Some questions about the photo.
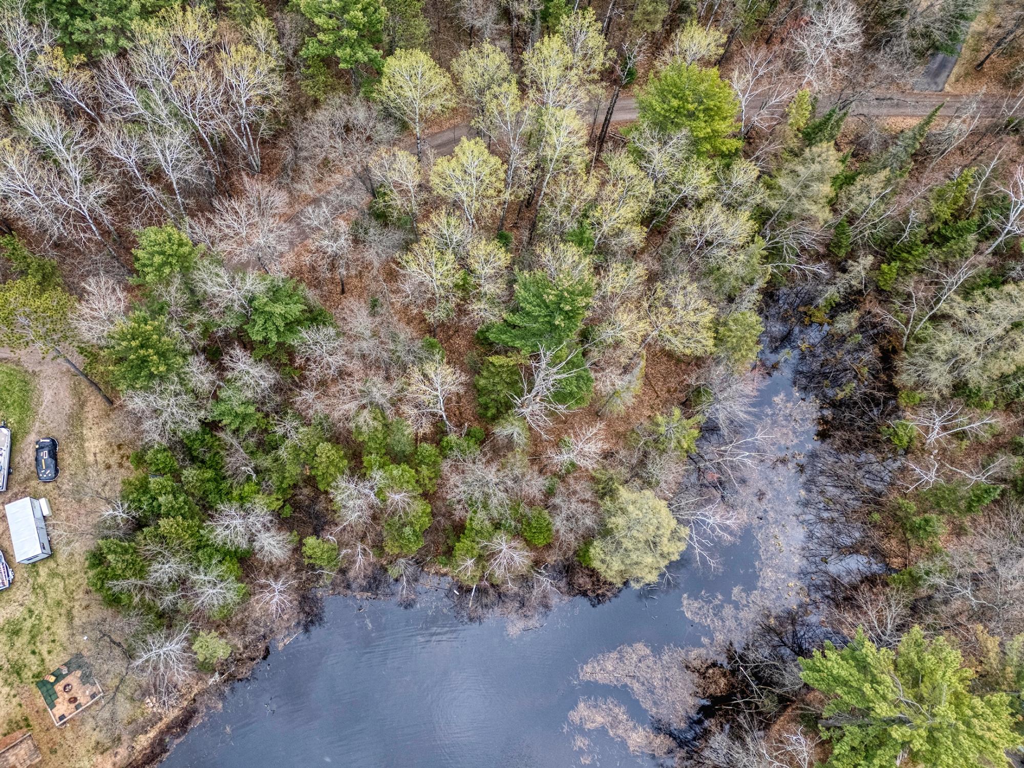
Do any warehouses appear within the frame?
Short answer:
No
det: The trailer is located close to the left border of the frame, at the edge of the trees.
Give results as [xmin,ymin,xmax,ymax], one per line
[6,495,52,565]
